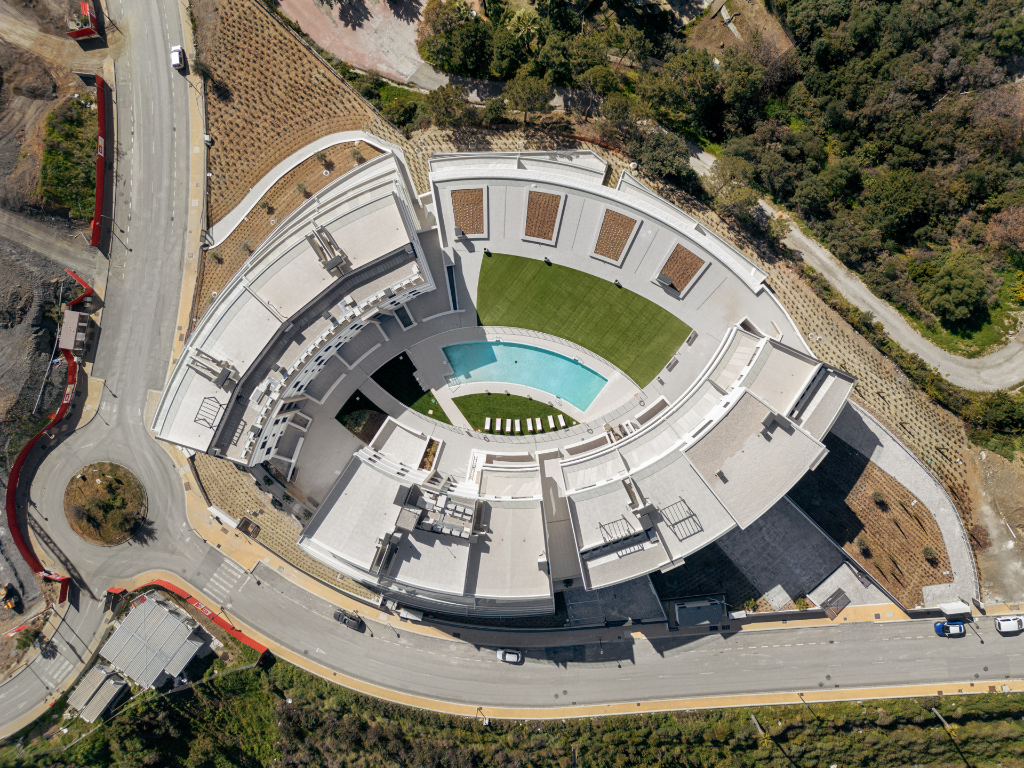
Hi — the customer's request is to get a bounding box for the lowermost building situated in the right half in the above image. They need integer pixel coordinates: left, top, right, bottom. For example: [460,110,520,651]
[674,598,728,627]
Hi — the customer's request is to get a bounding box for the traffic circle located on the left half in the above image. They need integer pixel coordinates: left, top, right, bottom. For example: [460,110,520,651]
[62,461,148,546]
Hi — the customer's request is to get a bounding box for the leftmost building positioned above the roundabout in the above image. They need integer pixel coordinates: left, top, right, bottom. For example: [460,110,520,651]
[59,310,93,351]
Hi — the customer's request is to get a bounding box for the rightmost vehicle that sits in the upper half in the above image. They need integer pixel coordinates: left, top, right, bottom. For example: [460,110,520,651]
[165,42,182,71]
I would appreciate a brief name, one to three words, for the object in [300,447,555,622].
building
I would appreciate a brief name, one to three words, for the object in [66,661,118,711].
shed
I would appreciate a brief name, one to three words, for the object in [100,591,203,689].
shed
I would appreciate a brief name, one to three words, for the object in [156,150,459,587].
building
